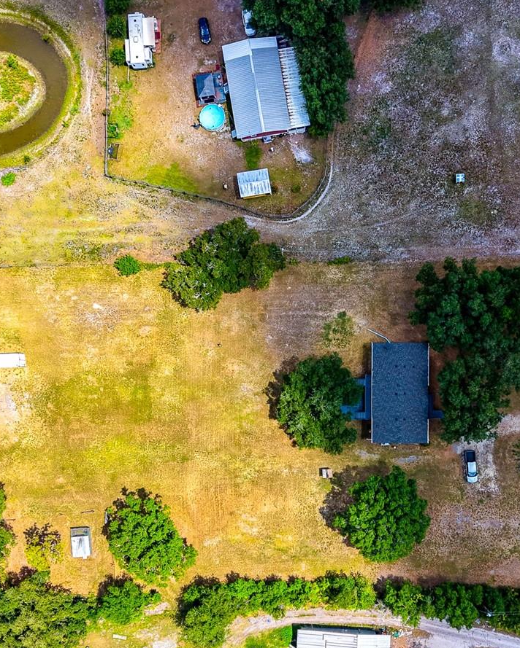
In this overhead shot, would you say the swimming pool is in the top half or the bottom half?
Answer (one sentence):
It is in the top half that the swimming pool appears.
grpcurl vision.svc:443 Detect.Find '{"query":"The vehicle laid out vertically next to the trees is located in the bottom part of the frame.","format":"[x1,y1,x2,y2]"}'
[463,450,476,483]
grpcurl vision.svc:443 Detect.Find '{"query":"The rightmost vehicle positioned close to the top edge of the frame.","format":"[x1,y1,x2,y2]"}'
[242,10,255,36]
